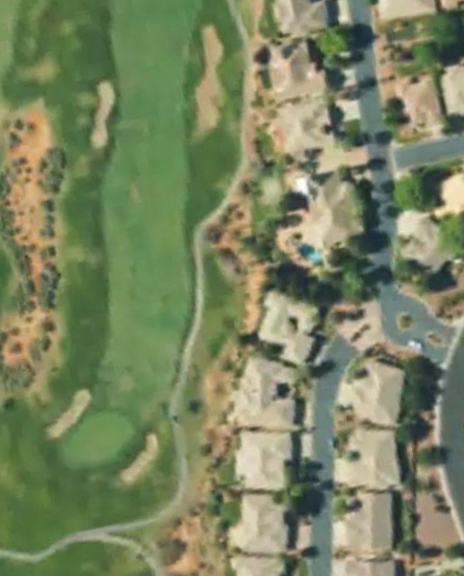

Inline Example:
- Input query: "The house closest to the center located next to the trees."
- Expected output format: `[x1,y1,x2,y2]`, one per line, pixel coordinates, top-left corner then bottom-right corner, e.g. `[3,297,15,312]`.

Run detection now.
[257,293,319,360]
